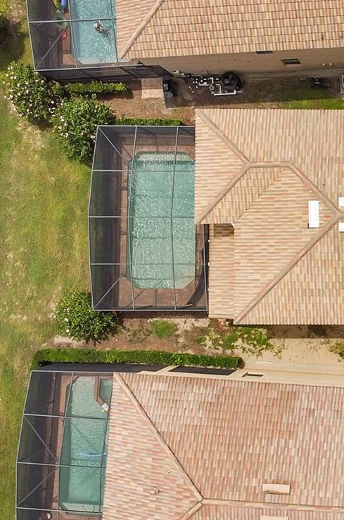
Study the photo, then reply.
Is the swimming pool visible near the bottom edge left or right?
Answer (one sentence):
The swimming pool visible near the bottom edge appears in the left half of the scene.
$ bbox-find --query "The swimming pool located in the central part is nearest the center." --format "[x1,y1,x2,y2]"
[121,146,201,294]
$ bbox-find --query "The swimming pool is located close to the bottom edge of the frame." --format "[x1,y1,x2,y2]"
[55,374,111,520]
